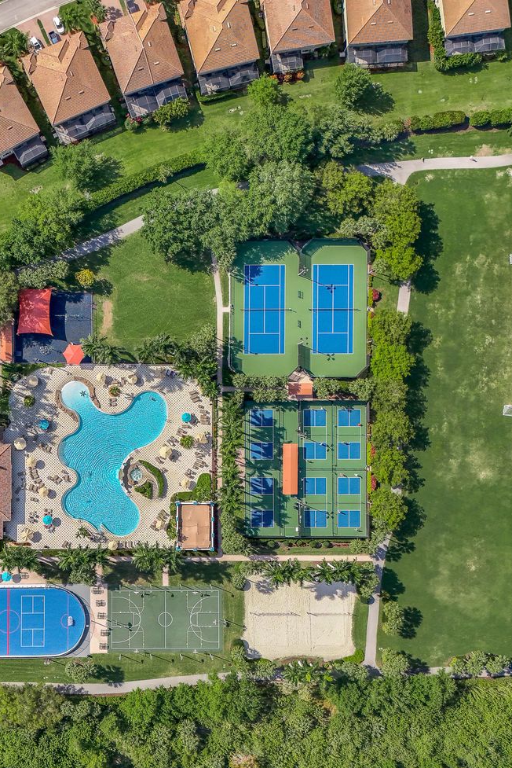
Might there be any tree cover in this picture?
Yes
